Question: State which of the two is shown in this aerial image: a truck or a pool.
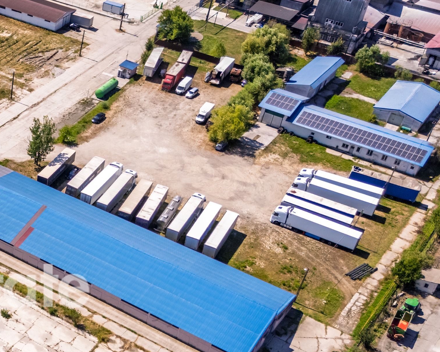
truck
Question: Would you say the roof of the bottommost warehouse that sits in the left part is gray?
No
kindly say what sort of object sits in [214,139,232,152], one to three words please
vehicle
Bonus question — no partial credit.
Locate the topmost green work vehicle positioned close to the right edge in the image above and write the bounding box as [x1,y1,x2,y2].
[402,296,421,317]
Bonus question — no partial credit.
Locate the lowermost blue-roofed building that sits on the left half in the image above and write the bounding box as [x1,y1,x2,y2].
[0,167,300,352]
